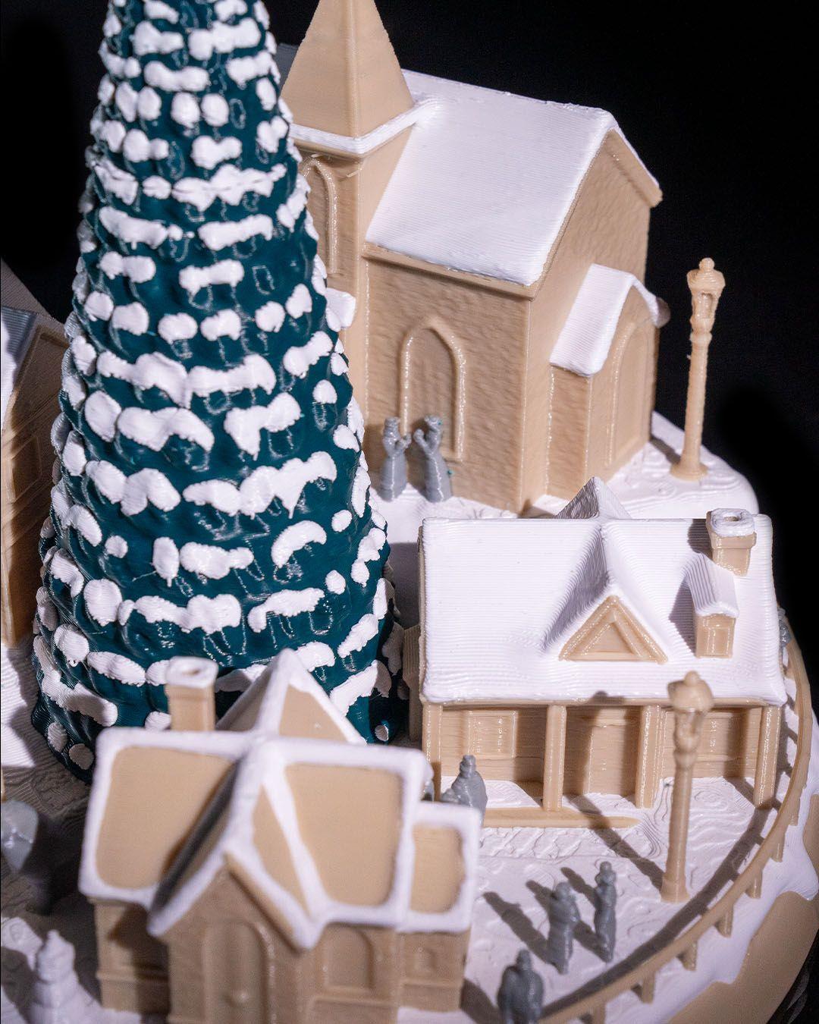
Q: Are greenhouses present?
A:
No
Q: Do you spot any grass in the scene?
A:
No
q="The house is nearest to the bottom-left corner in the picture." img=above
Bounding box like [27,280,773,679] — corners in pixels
[76,644,489,1024]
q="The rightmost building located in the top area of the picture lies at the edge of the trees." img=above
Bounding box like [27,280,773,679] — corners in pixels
[276,0,669,510]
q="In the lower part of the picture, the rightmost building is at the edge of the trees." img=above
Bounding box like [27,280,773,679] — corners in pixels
[400,479,790,833]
